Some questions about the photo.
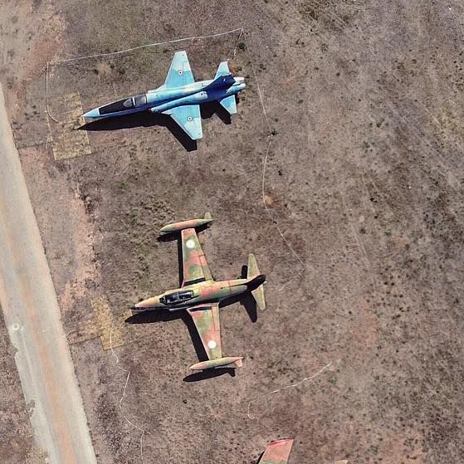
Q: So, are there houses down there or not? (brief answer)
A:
No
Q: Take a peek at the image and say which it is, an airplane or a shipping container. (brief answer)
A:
airplane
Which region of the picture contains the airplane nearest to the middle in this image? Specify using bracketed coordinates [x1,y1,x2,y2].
[134,210,269,369]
